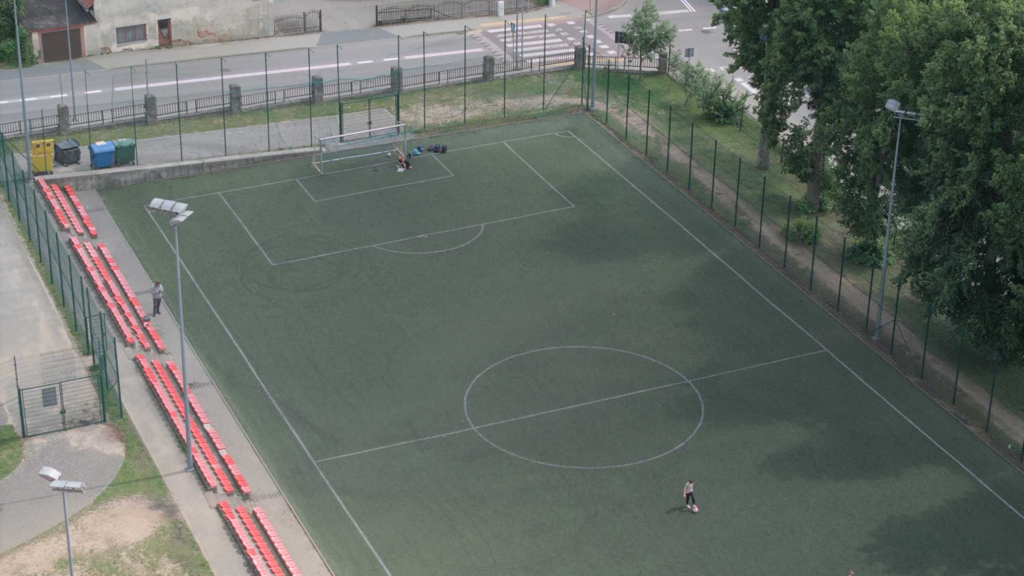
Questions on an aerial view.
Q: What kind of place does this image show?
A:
sports ground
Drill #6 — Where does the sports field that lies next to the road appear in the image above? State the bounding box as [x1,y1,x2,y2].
[98,113,1024,576]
